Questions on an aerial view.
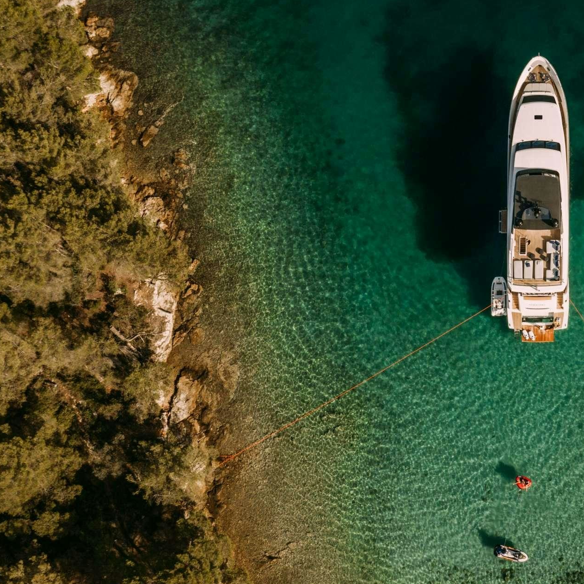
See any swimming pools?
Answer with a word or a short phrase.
No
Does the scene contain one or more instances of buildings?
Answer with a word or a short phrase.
No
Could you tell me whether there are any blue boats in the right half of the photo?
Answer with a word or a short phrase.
No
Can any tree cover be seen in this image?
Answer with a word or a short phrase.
Yes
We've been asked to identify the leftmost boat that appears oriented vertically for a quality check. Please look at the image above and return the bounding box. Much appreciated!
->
[490,277,507,316]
